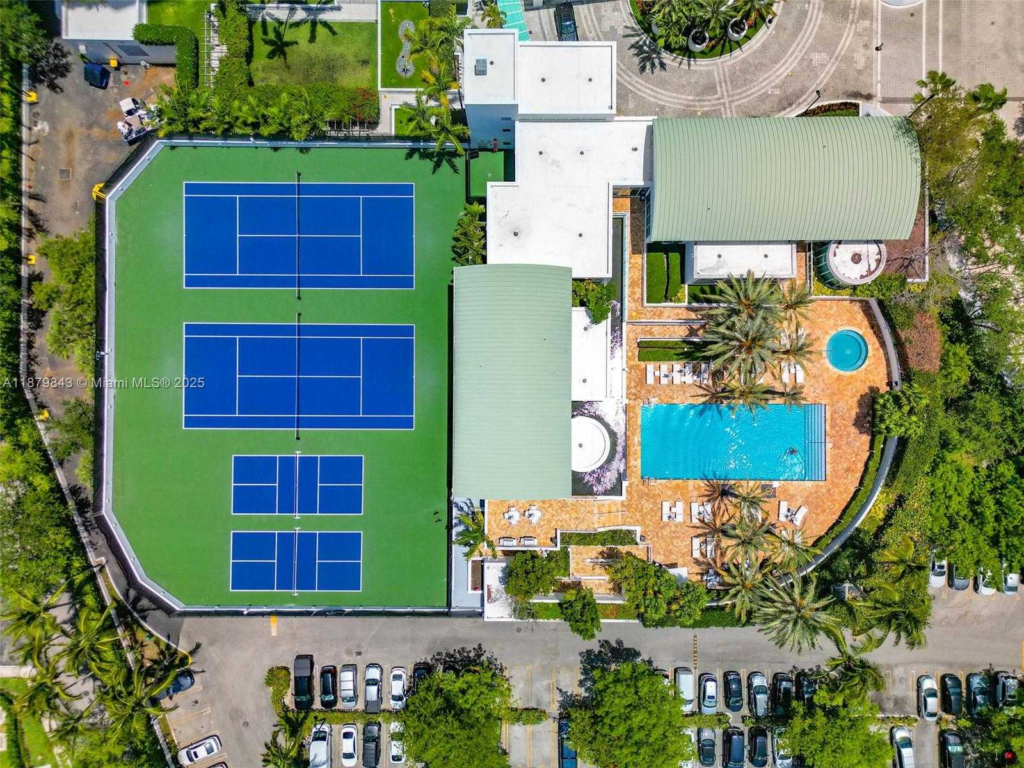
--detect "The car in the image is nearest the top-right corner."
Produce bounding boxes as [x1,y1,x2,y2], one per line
[557,0,580,41]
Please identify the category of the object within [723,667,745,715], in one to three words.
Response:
car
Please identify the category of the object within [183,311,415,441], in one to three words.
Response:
tennis court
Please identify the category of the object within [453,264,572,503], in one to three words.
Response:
building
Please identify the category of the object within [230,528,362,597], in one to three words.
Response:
sports court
